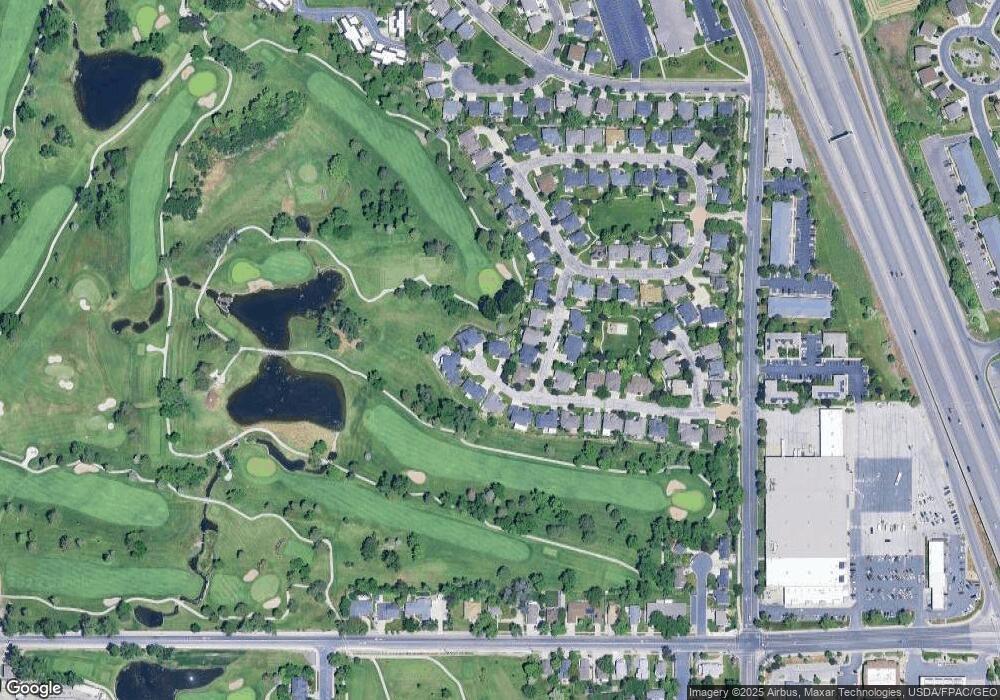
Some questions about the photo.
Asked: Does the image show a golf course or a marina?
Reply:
golf course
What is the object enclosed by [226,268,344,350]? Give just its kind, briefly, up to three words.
pond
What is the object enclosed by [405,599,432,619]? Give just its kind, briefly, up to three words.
house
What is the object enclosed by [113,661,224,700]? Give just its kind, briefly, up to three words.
pond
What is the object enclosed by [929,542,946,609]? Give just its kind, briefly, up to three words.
building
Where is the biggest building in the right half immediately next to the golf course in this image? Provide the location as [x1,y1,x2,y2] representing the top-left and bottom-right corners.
[766,457,847,558]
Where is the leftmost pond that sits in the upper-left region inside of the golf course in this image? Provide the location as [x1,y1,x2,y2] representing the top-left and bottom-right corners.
[74,50,163,131]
